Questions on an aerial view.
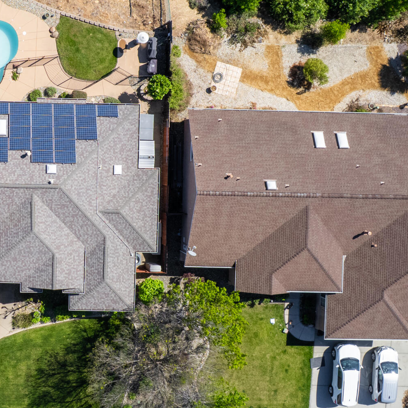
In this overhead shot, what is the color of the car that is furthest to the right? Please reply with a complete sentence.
The car that is furthest to the right looks white in the image.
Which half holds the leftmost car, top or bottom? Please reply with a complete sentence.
The leftmost car sits in the bottom half of the picture.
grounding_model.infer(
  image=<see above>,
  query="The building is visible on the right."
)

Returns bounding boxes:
[180,106,408,341]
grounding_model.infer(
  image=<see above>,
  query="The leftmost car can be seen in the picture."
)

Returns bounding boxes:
[330,341,366,407]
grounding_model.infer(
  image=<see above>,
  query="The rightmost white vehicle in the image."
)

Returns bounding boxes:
[369,345,403,404]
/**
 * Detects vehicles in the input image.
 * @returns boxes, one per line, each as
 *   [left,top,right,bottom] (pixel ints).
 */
[369,345,403,404]
[330,341,366,407]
